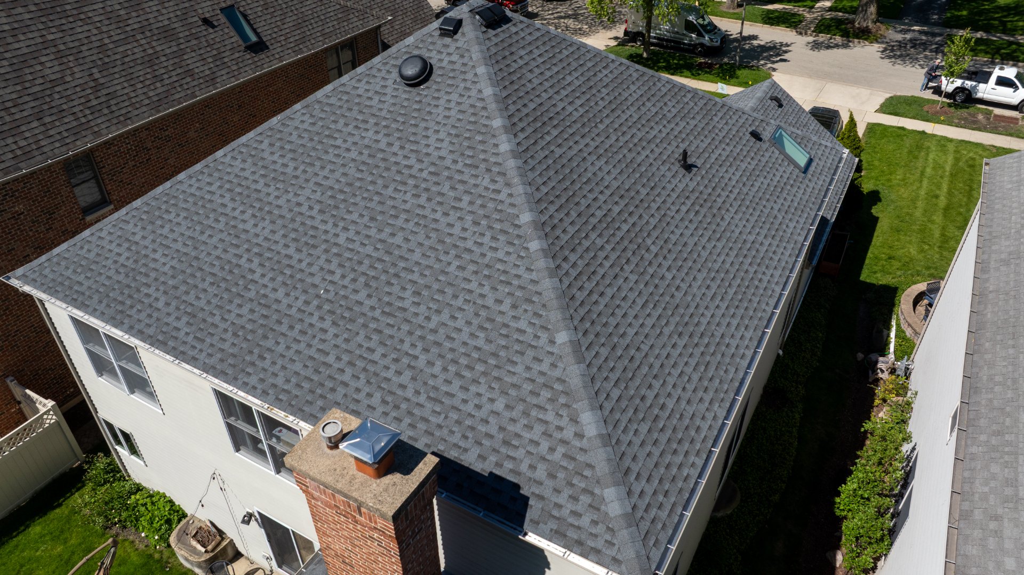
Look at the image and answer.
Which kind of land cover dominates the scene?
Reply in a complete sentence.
The bulk of the photo consists of buildings.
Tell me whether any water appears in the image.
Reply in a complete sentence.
No, the picture contains no water.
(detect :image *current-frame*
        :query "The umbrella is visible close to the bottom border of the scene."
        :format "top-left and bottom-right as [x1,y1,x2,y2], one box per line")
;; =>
[67,536,118,575]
